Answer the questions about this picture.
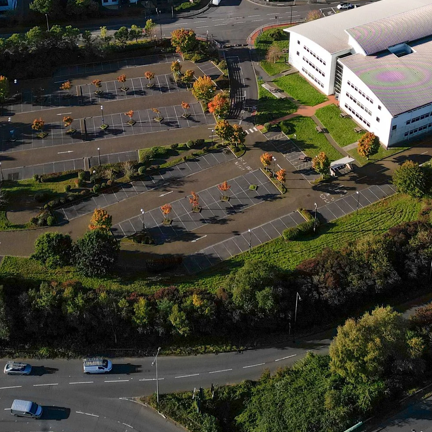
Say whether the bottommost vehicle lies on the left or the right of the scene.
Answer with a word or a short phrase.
left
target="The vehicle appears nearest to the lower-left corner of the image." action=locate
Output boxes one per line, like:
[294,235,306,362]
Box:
[9,400,44,421]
